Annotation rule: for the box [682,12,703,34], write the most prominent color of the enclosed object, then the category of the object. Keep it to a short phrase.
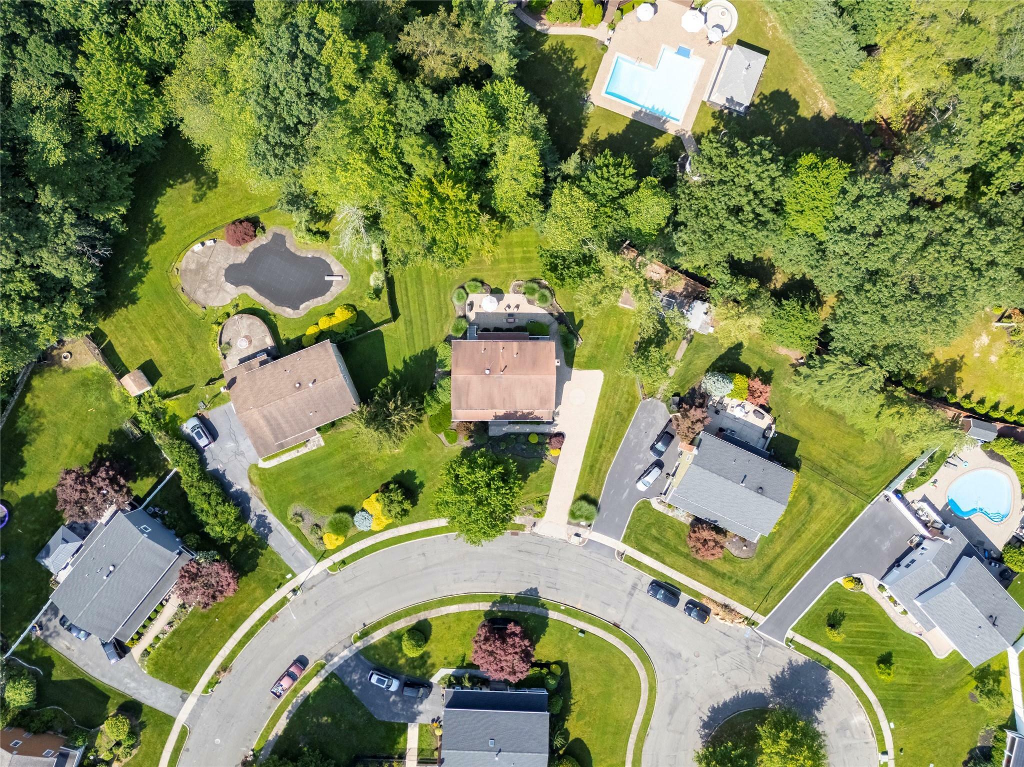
white umbrella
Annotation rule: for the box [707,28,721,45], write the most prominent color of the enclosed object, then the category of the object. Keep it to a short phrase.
white umbrella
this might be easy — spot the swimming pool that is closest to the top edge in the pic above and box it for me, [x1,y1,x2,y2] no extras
[603,43,706,123]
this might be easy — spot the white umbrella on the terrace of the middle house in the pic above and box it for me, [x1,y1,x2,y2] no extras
[482,296,498,312]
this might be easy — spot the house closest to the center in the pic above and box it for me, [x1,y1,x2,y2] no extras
[451,325,561,426]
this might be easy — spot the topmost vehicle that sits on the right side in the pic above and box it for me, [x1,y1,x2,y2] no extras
[649,427,676,460]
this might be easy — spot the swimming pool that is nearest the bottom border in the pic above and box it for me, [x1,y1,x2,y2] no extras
[946,468,1015,524]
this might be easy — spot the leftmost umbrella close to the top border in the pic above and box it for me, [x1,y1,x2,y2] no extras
[637,5,653,23]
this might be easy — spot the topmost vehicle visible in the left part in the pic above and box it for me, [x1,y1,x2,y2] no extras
[186,417,214,450]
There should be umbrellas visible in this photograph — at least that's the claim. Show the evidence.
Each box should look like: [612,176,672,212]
[707,28,721,45]
[682,12,703,34]
[482,296,498,312]
[637,5,653,23]
[733,405,745,417]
